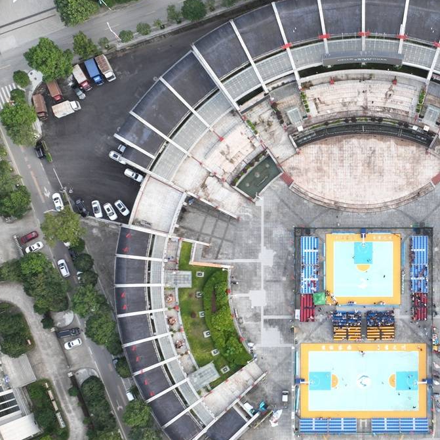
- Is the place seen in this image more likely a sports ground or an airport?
sports ground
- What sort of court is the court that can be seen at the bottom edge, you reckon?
basketball court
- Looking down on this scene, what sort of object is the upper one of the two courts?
basketball court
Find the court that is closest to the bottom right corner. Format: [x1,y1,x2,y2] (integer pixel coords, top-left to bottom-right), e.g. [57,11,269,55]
[301,343,427,428]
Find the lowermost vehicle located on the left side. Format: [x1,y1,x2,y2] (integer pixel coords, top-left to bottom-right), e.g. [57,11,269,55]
[123,387,137,402]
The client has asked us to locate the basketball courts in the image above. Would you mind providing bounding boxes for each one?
[301,343,427,428]
[326,233,401,306]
